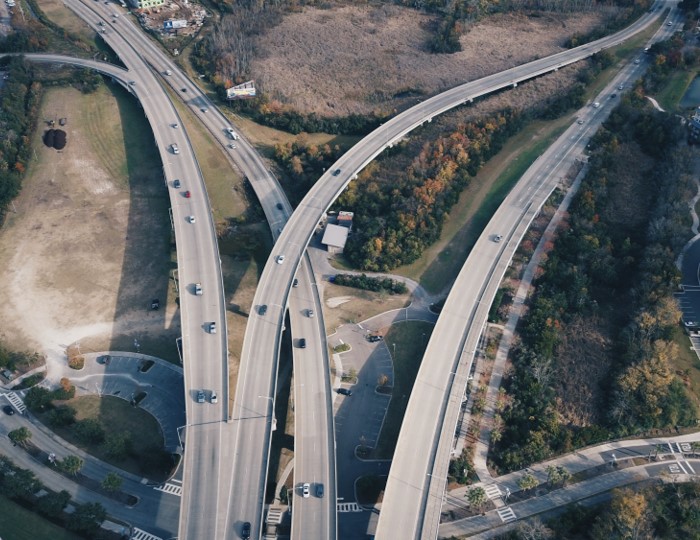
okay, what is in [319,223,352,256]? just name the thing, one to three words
shed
